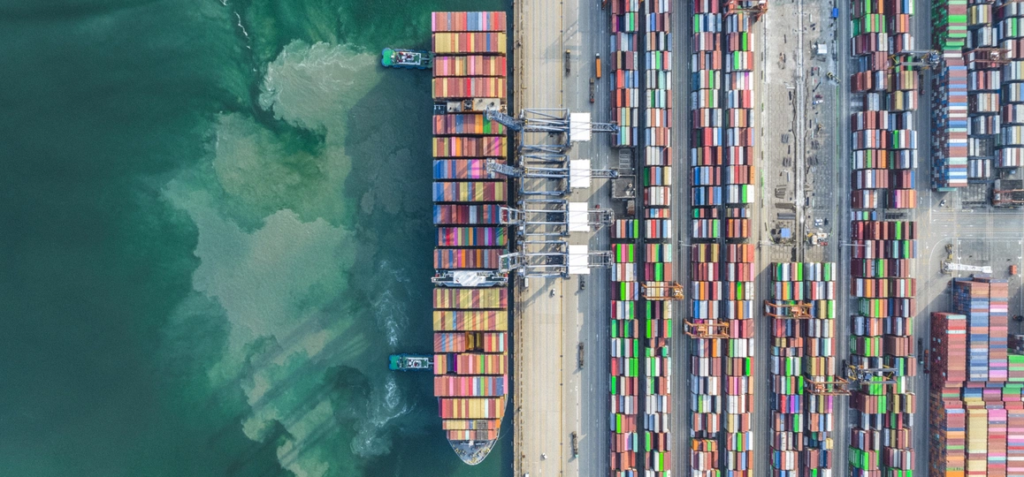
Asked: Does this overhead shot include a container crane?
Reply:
Yes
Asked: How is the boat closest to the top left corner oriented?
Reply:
horizontally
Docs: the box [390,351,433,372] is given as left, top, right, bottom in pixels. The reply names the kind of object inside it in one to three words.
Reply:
boat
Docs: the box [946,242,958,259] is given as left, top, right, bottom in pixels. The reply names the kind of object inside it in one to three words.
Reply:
vehicle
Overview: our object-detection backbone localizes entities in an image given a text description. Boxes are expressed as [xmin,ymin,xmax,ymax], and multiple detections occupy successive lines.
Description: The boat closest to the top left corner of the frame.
[382,48,434,70]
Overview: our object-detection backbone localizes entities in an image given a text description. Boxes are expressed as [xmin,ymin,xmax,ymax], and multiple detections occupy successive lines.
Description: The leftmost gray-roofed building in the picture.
[609,176,635,199]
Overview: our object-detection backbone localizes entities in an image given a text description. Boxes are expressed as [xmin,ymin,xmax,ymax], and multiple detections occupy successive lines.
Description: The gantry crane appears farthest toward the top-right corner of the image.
[963,45,1012,68]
